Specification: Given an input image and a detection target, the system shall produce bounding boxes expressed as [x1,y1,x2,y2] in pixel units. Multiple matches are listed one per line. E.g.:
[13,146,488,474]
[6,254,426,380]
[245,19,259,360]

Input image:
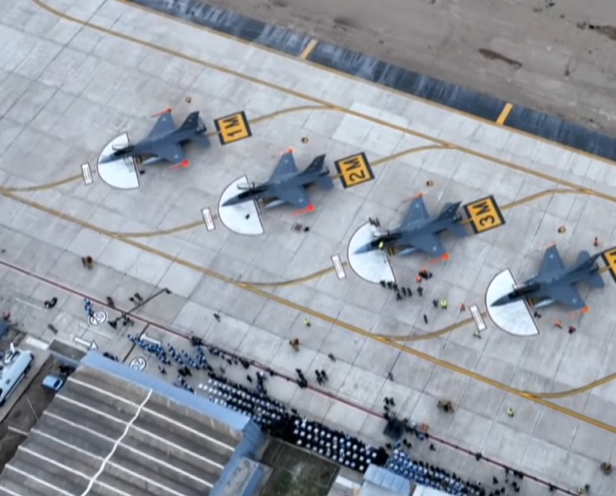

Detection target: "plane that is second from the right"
[351,194,463,265]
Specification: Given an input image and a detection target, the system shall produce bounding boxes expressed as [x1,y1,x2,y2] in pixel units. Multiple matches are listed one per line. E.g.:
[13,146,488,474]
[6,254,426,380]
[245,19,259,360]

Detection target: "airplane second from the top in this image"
[220,149,329,215]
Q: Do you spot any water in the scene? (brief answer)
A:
No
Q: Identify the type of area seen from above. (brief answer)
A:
airport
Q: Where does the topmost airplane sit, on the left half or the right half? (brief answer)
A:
left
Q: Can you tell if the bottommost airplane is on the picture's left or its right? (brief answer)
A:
right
